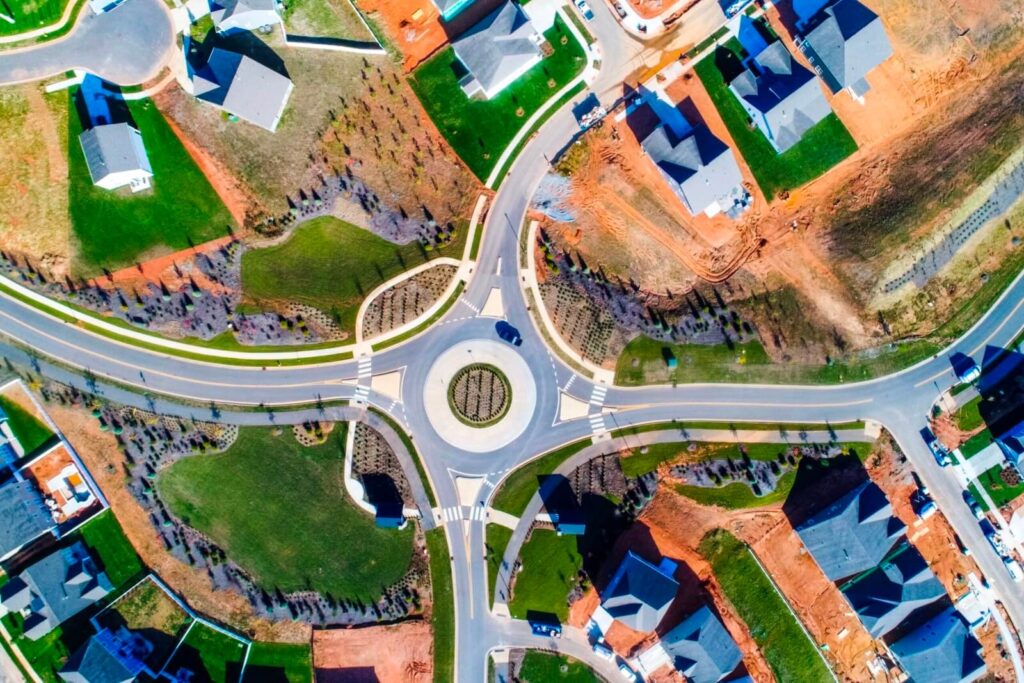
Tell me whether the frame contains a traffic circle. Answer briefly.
Yes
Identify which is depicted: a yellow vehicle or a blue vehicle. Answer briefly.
blue vehicle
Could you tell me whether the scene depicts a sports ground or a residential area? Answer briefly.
residential area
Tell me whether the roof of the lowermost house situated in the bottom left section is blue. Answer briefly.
Yes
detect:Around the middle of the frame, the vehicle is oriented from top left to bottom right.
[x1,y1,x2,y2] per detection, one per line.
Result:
[500,324,523,343]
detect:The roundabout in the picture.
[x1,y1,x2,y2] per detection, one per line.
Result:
[342,257,616,535]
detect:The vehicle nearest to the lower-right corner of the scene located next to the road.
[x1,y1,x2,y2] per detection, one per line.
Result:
[1001,558,1024,585]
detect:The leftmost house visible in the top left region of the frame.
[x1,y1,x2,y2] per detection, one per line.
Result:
[80,122,153,189]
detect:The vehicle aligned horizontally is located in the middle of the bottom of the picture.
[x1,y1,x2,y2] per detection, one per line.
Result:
[532,623,561,636]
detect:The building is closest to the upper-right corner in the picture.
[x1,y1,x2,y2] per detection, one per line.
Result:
[796,0,893,101]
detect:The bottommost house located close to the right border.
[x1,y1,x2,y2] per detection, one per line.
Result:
[889,614,987,683]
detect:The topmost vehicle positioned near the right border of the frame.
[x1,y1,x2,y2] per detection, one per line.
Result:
[954,362,983,380]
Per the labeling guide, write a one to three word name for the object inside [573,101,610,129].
truck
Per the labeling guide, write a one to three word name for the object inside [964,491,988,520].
truck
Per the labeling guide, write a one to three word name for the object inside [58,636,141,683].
house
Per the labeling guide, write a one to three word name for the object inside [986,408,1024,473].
house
